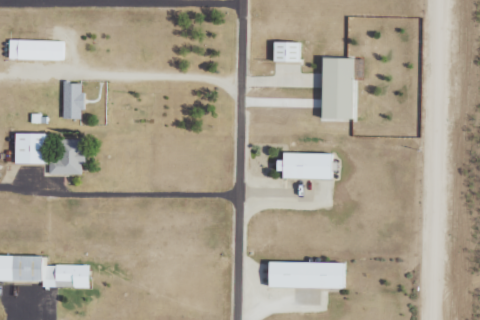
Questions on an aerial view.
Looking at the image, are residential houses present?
Yes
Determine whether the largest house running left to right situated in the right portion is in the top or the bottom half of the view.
bottom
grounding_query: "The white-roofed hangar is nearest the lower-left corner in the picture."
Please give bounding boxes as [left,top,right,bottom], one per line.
[0,256,47,285]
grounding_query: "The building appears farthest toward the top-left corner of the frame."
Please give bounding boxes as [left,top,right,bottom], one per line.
[8,40,65,61]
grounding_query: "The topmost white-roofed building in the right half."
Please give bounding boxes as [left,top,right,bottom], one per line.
[274,42,304,66]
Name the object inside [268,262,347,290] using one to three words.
house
